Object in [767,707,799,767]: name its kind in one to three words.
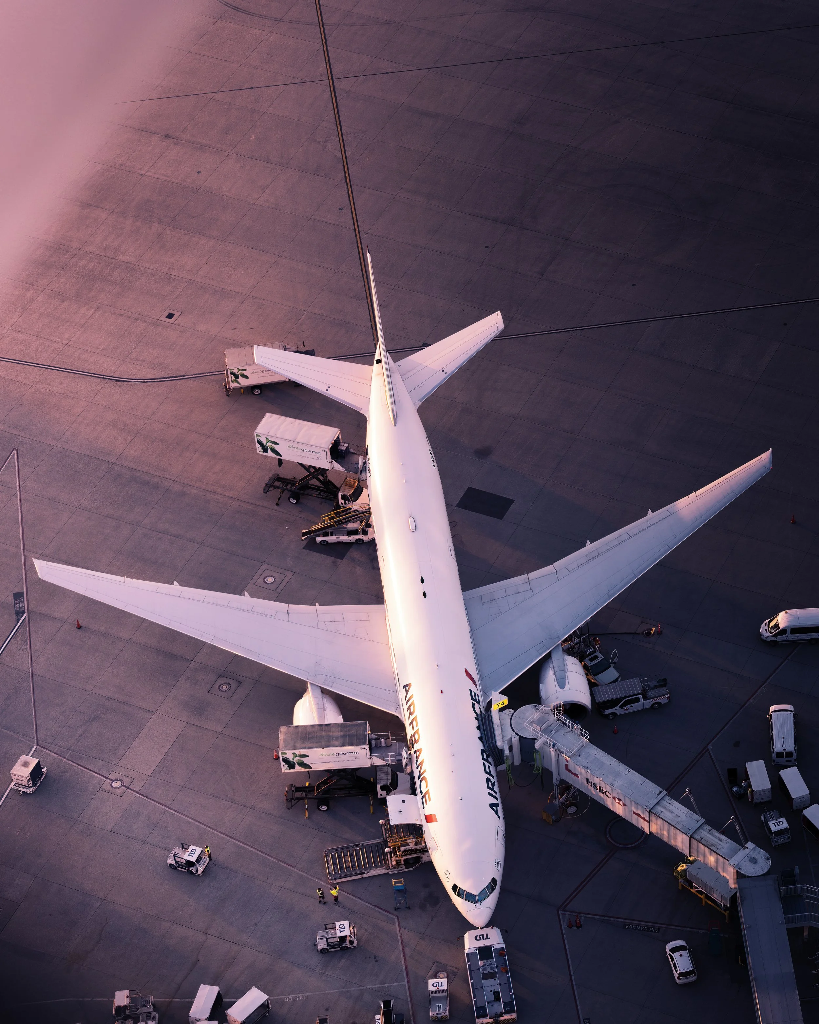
van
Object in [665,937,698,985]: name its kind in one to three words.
car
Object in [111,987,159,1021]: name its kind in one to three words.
work vehicle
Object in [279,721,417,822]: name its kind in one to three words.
truck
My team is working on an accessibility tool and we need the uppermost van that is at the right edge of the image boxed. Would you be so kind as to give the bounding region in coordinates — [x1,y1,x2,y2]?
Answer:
[760,608,819,648]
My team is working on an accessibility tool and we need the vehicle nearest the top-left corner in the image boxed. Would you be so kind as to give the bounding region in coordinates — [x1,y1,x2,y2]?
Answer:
[221,335,323,395]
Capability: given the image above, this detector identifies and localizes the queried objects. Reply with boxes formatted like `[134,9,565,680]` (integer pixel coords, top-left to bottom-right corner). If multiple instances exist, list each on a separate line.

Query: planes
[34,245,773,931]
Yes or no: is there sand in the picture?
No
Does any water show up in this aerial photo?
No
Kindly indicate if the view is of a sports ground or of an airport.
airport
